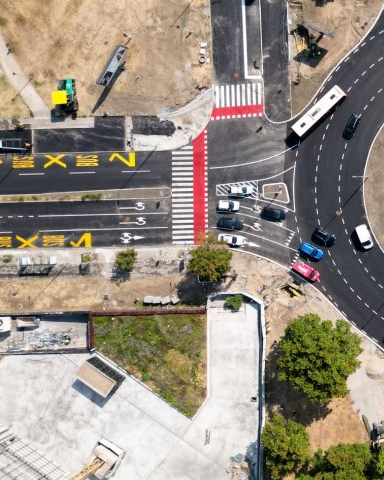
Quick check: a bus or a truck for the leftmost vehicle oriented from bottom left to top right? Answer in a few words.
bus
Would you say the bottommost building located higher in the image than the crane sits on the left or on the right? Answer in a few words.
left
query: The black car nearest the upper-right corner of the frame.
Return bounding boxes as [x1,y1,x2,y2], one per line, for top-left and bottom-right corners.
[345,114,360,139]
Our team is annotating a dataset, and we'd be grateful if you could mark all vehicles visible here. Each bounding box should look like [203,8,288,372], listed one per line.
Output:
[311,227,335,246]
[293,262,319,281]
[219,218,244,229]
[218,201,241,212]
[230,185,255,195]
[0,140,26,150]
[356,224,373,250]
[262,207,288,221]
[299,241,323,260]
[220,234,246,246]
[345,114,360,139]
[292,85,349,138]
